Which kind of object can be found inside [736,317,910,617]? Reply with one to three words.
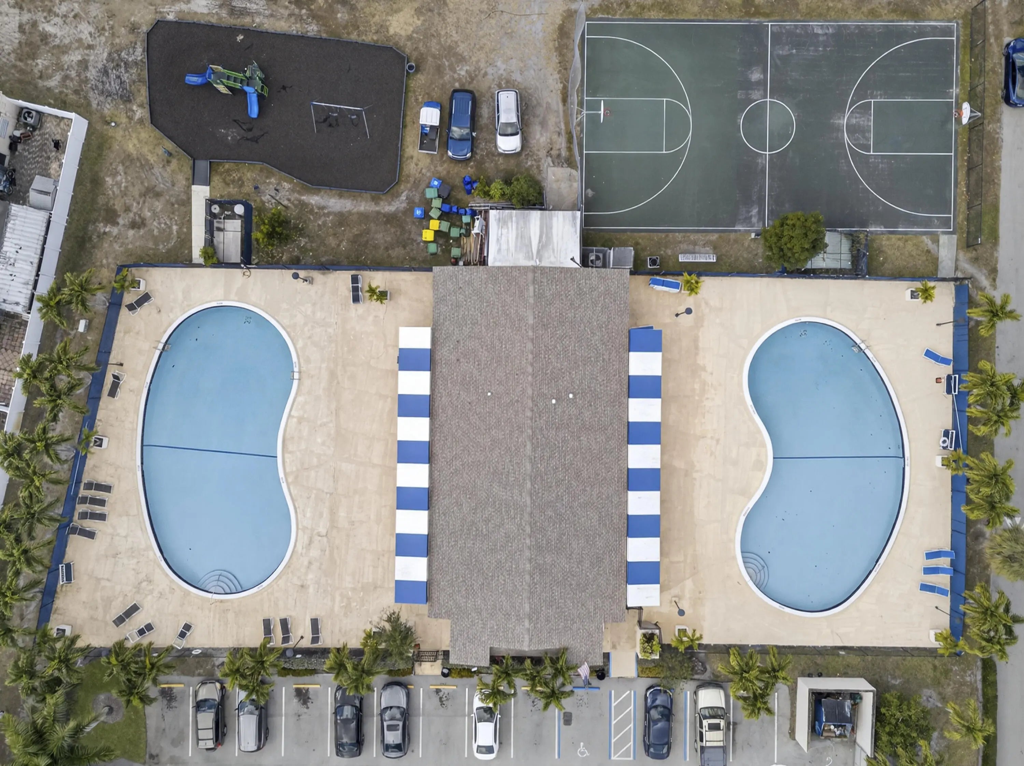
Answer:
swimming pool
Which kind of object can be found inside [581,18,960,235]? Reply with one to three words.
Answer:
basketball court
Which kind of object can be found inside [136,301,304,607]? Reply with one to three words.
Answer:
swimming pool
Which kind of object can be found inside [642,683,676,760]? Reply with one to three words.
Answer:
car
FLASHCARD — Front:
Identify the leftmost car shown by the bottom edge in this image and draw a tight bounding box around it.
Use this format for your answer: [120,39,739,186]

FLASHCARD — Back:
[192,680,229,752]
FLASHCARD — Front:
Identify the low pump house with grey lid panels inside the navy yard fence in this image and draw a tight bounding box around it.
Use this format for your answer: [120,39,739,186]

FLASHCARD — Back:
[215,220,246,264]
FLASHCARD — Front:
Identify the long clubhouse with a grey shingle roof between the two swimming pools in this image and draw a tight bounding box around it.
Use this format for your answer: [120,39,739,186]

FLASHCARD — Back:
[395,266,662,666]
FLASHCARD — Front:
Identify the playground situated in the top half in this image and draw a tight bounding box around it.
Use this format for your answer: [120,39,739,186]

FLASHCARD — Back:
[144,18,407,194]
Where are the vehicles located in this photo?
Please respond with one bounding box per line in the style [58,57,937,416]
[642,683,676,760]
[192,680,229,752]
[493,87,525,155]
[1003,40,1024,108]
[444,86,477,161]
[377,681,411,759]
[332,686,365,760]
[694,681,730,766]
[416,99,444,156]
[234,682,271,756]
[470,686,502,761]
